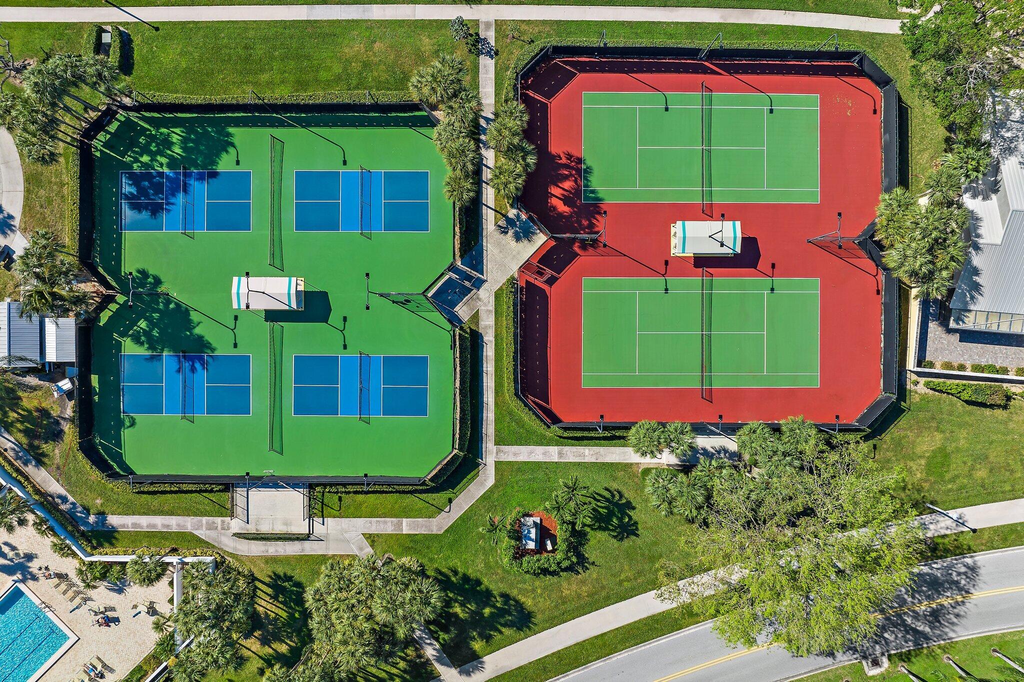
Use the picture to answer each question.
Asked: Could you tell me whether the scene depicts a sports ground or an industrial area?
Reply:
sports ground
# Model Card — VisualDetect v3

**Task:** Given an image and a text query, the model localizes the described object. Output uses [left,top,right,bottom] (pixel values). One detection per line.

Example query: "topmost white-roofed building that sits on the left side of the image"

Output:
[232,277,304,310]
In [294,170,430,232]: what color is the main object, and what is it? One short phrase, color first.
blue sports court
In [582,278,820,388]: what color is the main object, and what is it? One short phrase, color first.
green tennis court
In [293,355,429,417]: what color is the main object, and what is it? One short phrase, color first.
blue sports court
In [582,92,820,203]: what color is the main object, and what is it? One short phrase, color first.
green tennis court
